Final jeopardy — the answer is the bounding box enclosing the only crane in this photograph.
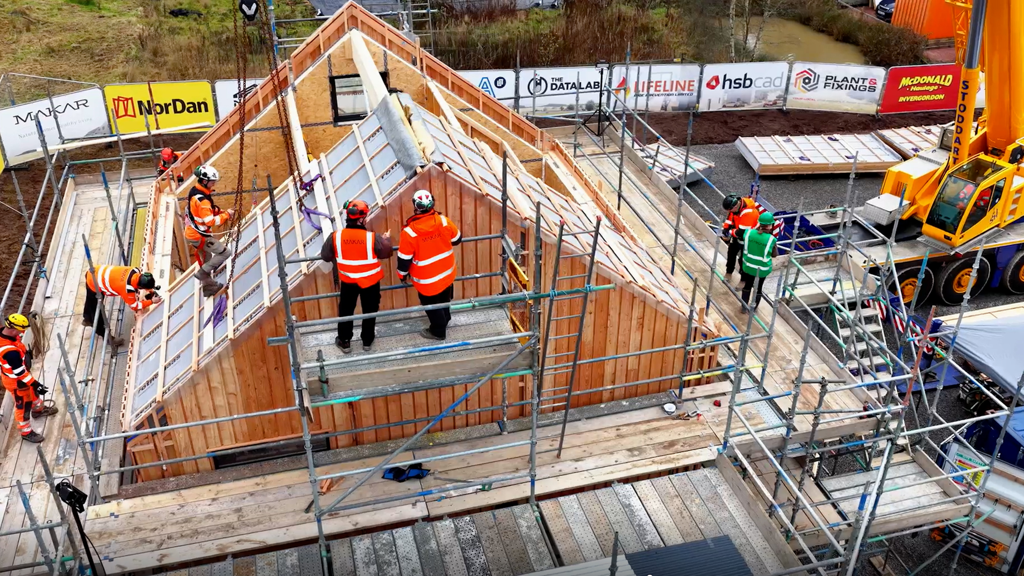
[734,0,1024,384]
